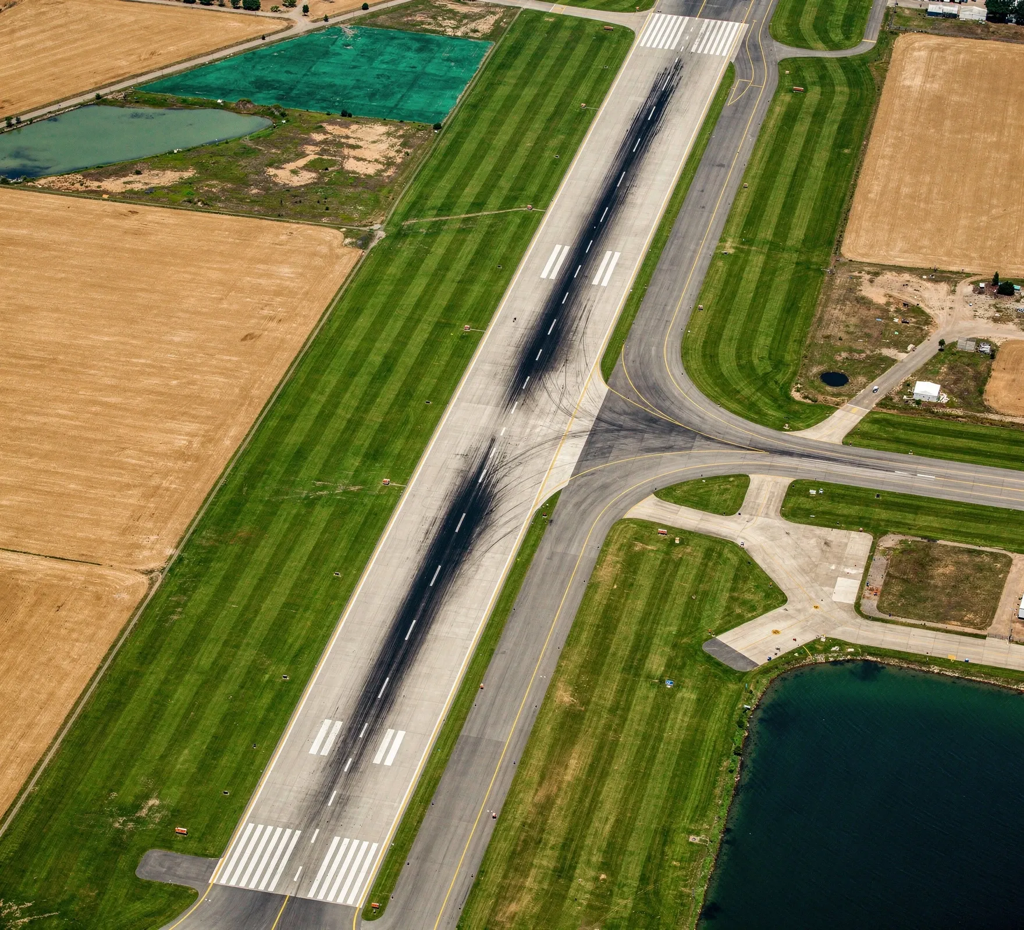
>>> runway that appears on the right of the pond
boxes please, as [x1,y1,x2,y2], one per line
[206,13,878,908]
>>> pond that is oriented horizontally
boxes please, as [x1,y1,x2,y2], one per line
[0,103,272,178]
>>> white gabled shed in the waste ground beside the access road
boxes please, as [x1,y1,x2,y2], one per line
[914,381,942,402]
